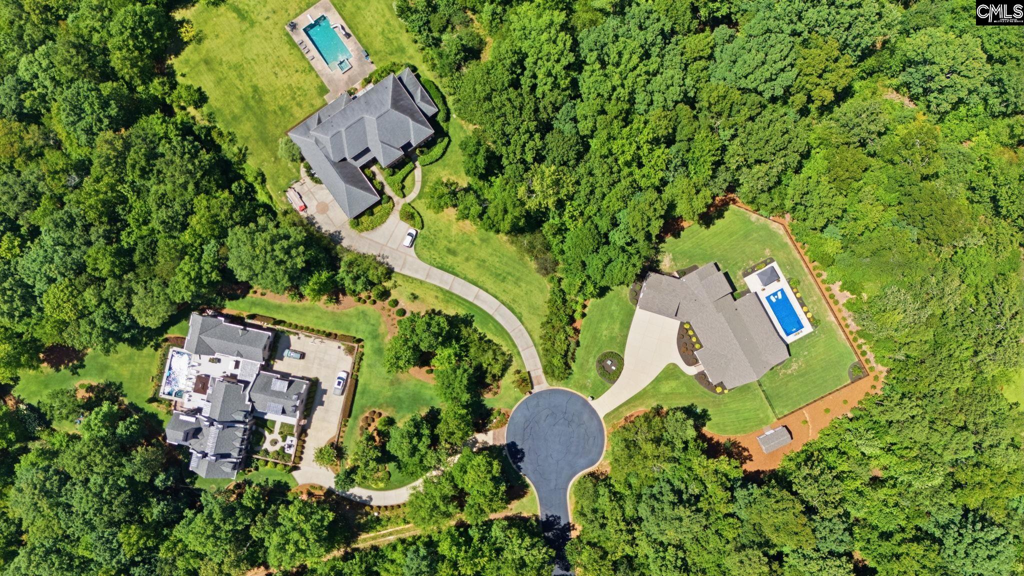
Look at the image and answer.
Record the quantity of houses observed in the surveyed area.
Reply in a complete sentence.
The photo contains 3 houses.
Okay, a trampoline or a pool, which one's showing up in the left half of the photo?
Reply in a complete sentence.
The feature located in the left half of the photo is a pool.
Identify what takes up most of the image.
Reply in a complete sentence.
For the most part, this view shows trees.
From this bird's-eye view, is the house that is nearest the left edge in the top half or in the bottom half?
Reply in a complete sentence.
You can find the house that is nearest the left edge in the bottom half.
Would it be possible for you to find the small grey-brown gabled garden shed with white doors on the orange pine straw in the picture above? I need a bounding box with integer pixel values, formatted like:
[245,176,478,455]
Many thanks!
[755,424,793,453]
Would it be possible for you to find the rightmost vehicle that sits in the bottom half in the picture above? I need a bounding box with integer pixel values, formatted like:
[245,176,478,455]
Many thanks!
[332,371,347,397]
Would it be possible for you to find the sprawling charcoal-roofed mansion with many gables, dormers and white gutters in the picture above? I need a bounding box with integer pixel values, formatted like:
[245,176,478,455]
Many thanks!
[166,313,314,479]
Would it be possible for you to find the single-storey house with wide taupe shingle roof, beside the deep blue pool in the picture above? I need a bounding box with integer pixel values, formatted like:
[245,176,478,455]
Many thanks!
[636,262,790,389]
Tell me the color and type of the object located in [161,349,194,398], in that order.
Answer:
white swimming pool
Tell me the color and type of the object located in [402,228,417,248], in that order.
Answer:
white car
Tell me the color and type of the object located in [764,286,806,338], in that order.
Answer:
blue swimming pool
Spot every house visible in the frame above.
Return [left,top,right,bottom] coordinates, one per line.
[288,67,438,219]
[166,313,314,479]
[636,262,790,389]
